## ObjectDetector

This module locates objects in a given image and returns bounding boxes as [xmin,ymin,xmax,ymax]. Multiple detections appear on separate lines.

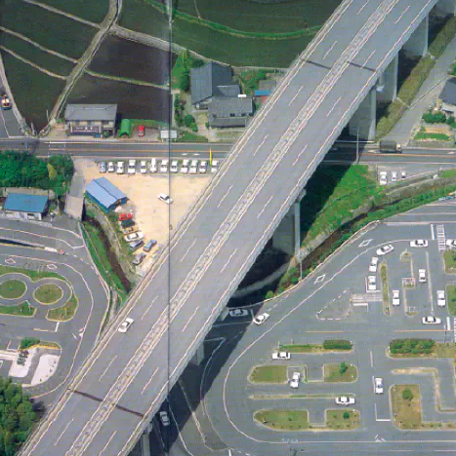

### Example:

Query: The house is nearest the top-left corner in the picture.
[66,105,117,134]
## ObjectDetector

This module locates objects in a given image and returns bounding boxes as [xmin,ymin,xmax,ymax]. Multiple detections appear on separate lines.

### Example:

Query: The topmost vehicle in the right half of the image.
[378,140,402,152]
